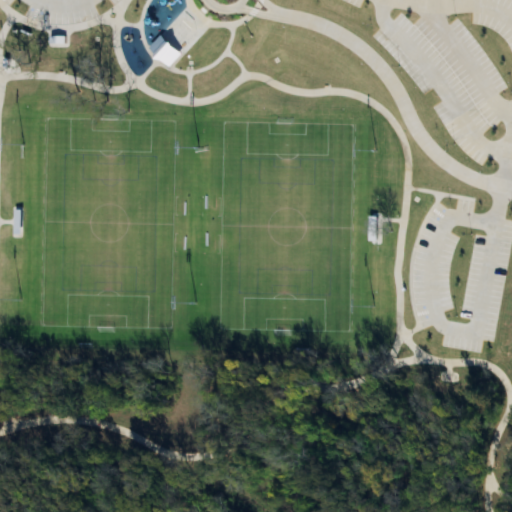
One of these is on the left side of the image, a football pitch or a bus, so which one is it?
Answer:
football pitch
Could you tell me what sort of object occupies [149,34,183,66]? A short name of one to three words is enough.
building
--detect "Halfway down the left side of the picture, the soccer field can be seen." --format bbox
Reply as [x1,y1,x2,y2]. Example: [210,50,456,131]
[42,118,180,330]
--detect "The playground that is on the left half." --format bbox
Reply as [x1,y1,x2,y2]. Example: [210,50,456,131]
[122,0,186,75]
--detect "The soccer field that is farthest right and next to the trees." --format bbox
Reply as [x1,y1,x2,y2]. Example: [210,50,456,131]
[218,118,356,333]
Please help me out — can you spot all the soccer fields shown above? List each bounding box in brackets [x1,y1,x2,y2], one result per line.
[42,118,180,330]
[218,118,356,333]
